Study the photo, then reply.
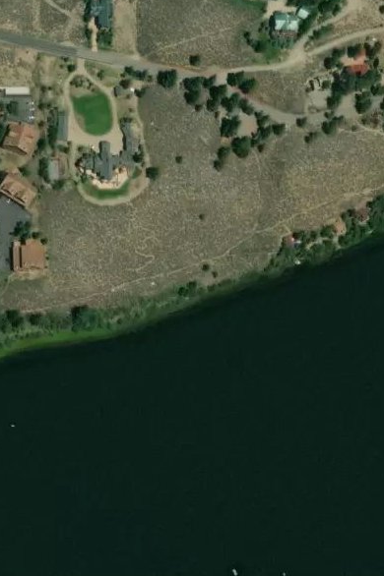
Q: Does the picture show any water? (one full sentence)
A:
Yes, some water is visible.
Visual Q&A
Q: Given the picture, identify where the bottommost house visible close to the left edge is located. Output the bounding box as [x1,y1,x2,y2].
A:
[13,238,44,276]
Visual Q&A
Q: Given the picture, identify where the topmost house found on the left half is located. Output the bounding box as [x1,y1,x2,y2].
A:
[90,0,111,30]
